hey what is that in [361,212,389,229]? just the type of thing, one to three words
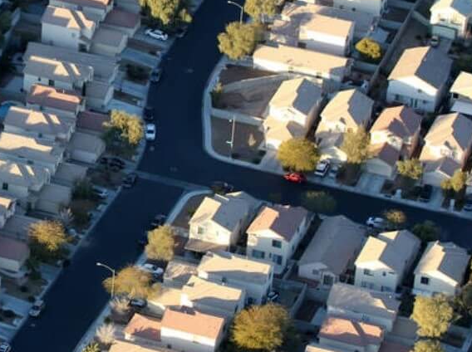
car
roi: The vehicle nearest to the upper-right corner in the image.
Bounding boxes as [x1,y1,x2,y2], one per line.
[428,32,444,47]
